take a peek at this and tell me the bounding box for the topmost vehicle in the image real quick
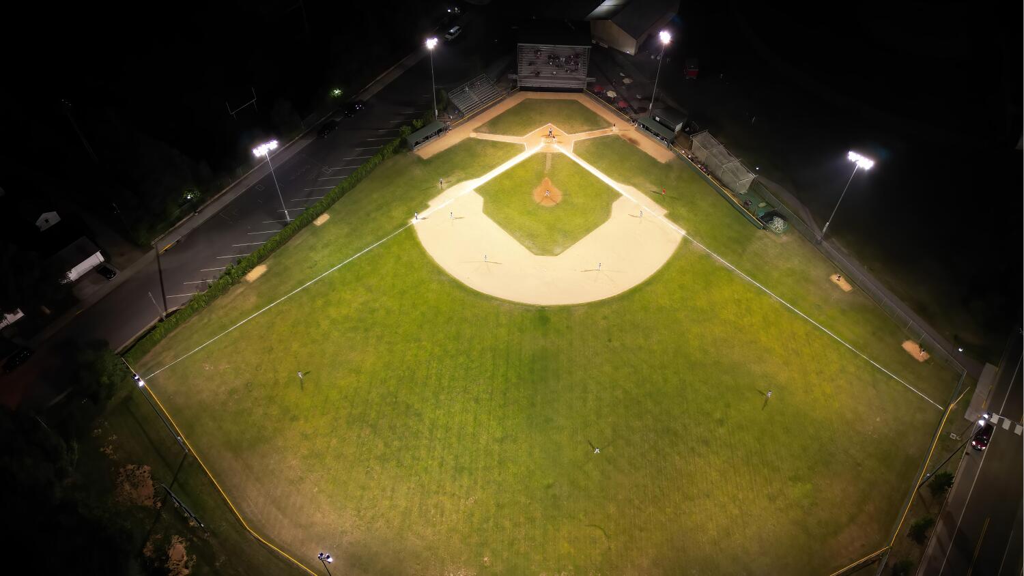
[443,24,460,39]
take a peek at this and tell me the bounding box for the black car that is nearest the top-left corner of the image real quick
[94,262,118,280]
